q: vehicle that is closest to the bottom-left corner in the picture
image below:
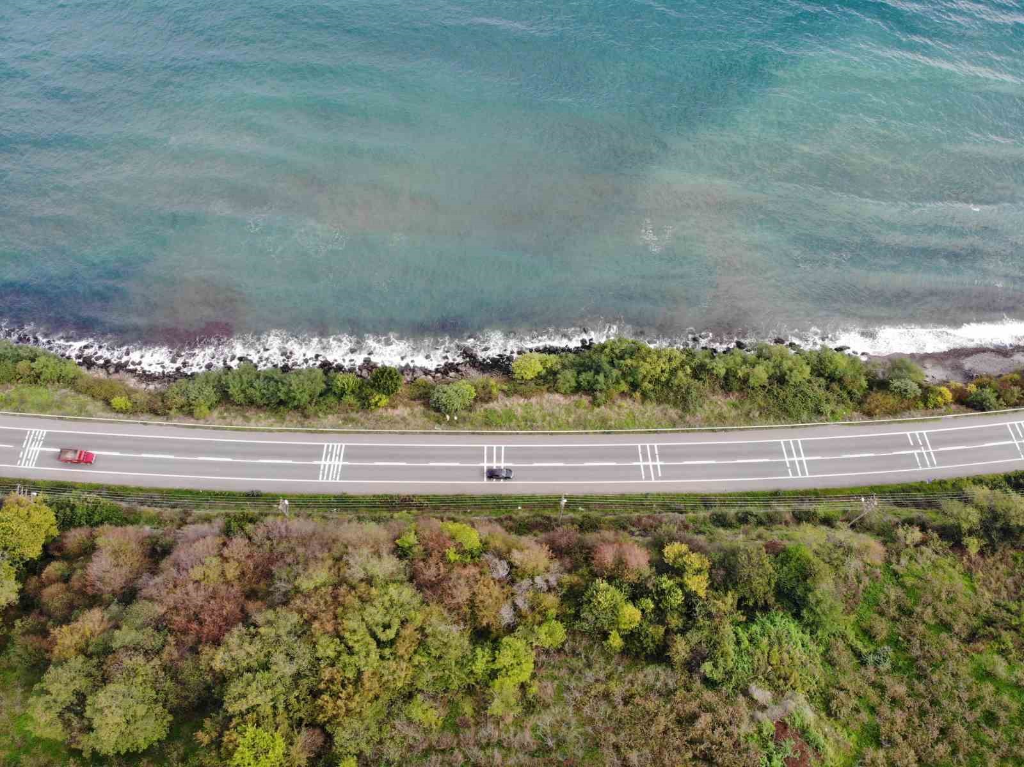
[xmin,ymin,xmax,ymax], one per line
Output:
[54,448,97,465]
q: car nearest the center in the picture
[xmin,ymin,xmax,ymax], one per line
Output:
[487,468,512,480]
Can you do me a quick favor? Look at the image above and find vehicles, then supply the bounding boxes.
[54,448,97,465]
[487,468,512,480]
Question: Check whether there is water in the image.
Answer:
Yes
